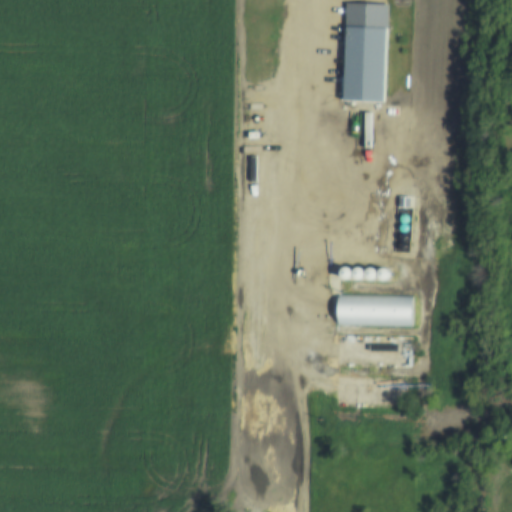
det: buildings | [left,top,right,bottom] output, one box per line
[339,296,416,328]
[402,196,414,209]
[344,2,392,104]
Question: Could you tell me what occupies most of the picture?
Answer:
farmland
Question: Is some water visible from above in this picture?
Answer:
No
